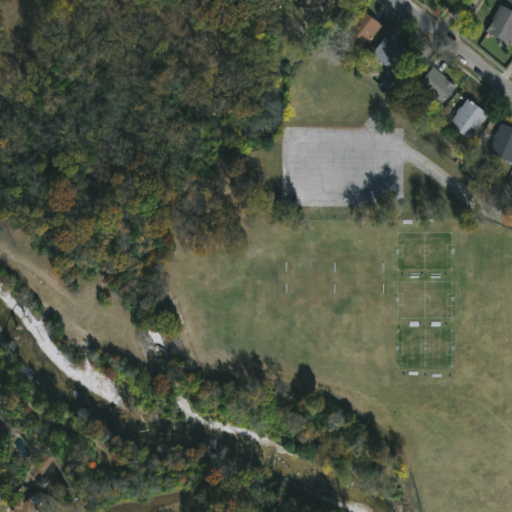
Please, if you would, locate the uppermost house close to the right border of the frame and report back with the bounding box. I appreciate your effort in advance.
[484,3,512,41]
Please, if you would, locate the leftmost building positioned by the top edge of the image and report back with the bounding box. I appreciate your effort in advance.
[350,12,380,42]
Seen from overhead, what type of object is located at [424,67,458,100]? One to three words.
house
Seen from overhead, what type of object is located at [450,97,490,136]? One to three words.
house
